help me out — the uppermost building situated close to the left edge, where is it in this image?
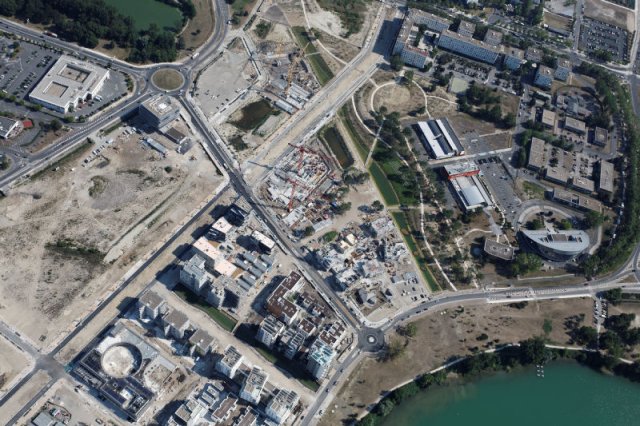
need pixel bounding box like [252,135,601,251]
[29,54,109,114]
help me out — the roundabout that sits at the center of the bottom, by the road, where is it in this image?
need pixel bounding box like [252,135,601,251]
[355,325,386,354]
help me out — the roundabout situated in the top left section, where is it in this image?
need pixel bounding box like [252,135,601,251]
[141,61,194,98]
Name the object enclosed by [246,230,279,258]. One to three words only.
house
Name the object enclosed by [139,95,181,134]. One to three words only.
building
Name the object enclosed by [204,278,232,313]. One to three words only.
house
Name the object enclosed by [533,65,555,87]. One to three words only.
building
